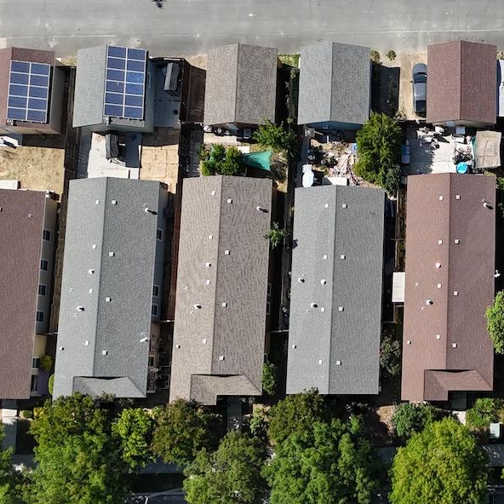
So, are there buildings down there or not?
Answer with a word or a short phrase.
Yes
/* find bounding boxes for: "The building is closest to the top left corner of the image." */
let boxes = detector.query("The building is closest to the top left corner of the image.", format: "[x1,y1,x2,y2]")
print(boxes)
[0,47,66,134]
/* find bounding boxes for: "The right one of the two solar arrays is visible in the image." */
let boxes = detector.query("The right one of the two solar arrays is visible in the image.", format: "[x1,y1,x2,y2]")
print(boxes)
[104,47,146,121]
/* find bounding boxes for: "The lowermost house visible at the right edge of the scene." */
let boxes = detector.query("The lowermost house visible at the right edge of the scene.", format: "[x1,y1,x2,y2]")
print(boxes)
[401,173,500,401]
